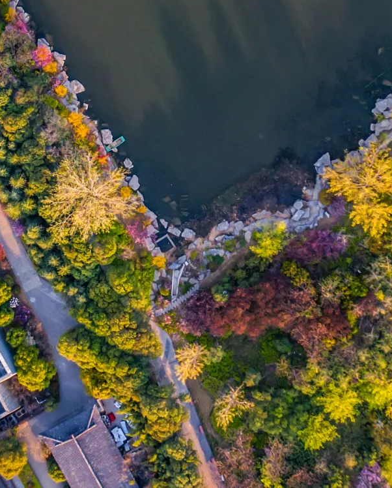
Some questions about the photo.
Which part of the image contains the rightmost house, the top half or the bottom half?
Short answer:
bottom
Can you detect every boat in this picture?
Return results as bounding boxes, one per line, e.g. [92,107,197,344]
[109,136,126,149]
